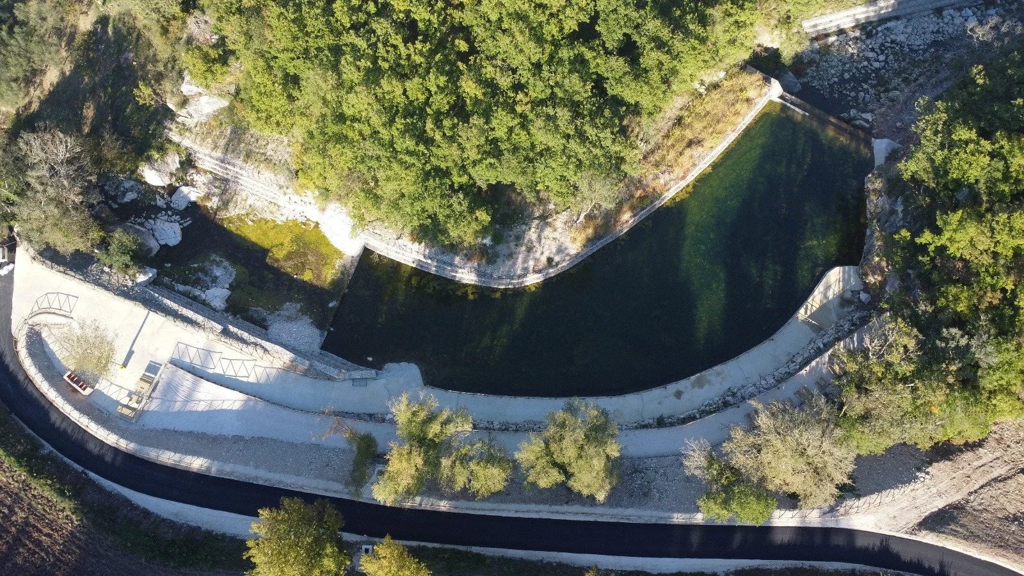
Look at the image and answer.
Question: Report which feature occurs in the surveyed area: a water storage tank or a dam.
dam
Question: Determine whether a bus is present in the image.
No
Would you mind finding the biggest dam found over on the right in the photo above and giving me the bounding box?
[776,87,877,141]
